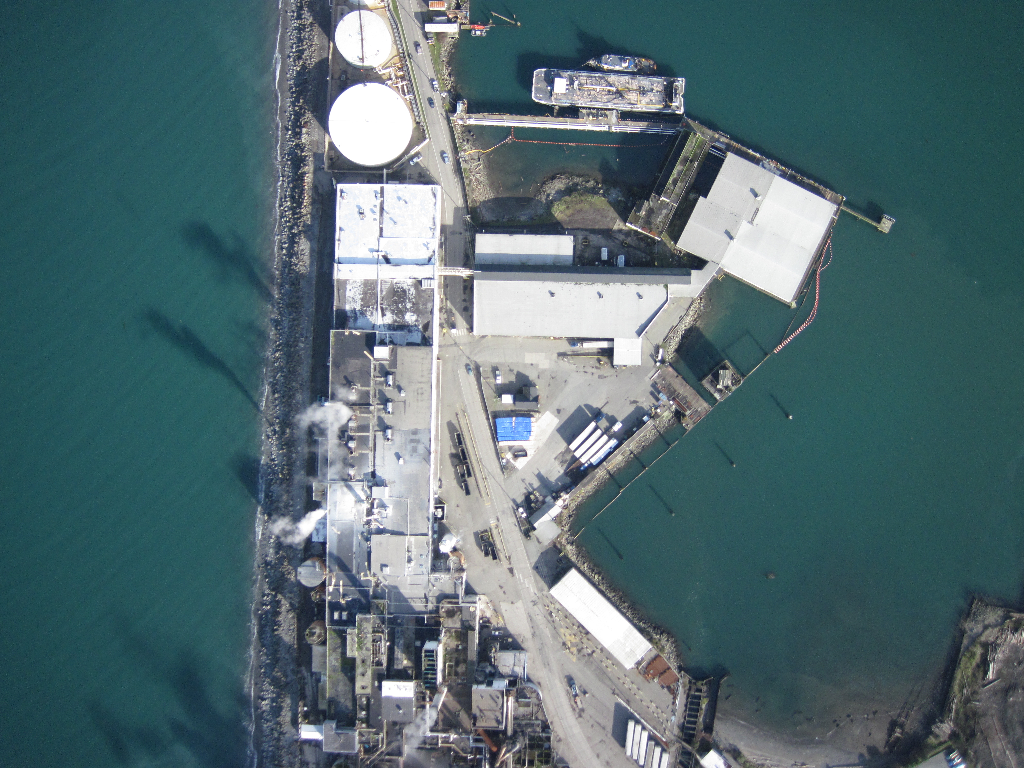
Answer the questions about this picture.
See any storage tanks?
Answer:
Yes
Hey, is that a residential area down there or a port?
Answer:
port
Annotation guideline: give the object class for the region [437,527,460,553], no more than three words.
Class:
silo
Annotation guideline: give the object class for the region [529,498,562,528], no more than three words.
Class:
shed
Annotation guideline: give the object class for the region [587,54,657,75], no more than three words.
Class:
boat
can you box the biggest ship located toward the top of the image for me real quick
[532,68,684,116]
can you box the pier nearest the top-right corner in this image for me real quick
[840,205,895,234]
